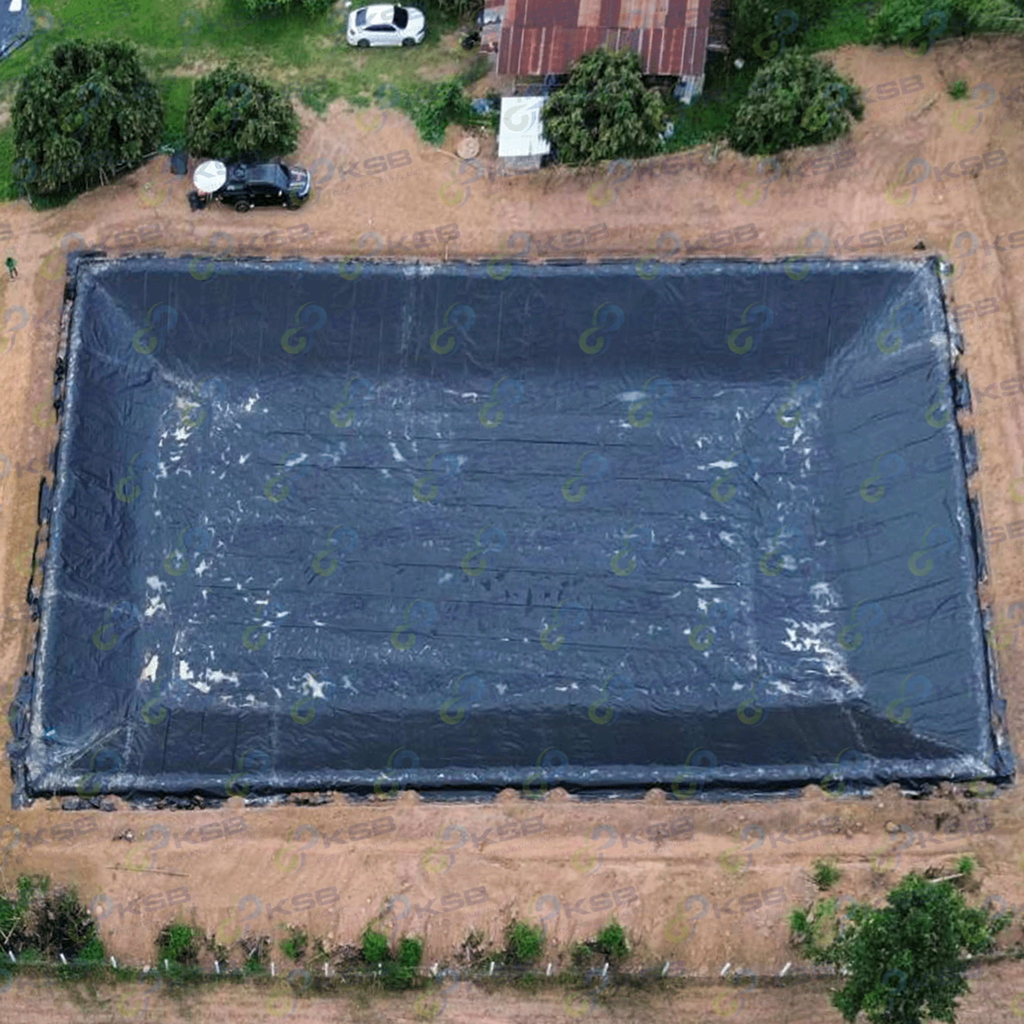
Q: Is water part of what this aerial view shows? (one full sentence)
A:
Yes, there is water in the image.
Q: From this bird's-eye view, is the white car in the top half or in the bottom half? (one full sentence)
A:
The top half of the photo is where the white car is.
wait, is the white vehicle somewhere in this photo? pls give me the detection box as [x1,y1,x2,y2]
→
[346,0,426,47]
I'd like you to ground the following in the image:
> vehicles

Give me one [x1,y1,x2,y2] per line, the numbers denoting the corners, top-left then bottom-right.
[346,0,426,47]
[213,158,314,211]
[458,29,478,56]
